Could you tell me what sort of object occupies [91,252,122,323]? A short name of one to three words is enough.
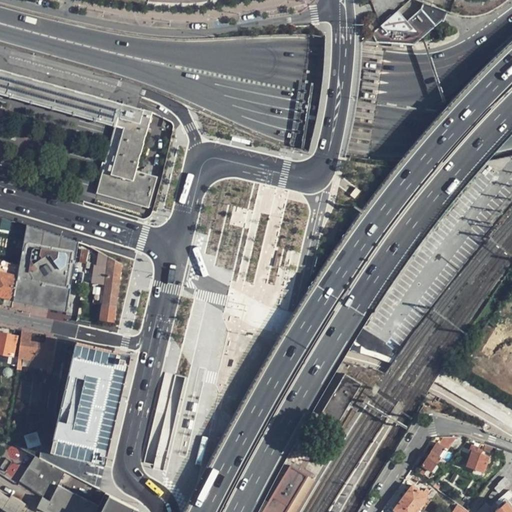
house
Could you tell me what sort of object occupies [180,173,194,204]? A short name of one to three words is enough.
vehicle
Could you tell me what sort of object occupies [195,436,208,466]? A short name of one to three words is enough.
vehicle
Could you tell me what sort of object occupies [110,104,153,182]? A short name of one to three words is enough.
building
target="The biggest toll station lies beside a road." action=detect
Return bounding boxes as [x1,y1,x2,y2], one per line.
[348,40,420,158]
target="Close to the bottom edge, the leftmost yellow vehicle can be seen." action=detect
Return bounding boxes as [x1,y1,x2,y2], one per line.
[146,480,164,496]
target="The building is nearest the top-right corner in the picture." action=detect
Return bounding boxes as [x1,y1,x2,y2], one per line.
[374,4,447,45]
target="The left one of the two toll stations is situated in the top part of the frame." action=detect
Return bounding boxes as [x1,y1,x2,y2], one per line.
[285,34,324,148]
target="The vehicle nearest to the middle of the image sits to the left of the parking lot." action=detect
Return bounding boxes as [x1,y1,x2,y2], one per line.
[193,246,208,276]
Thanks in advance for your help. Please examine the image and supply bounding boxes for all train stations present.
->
[0,70,118,130]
